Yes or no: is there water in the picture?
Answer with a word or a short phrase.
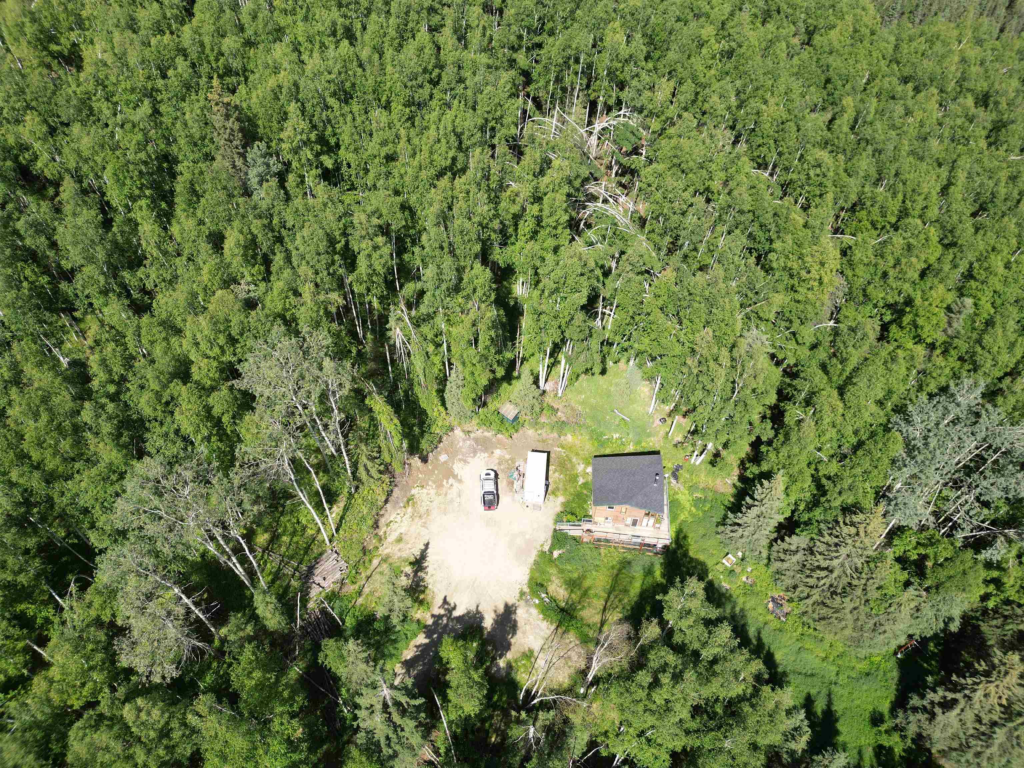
No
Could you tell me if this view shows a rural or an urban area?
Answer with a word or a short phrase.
rural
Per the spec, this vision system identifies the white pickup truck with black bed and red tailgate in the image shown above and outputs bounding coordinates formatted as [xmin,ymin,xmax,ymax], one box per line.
[479,469,498,511]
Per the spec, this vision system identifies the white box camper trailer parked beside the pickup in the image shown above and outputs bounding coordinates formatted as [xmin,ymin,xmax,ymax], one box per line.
[525,452,548,502]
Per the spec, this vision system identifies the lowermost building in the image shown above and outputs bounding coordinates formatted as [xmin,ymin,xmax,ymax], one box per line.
[592,455,664,529]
